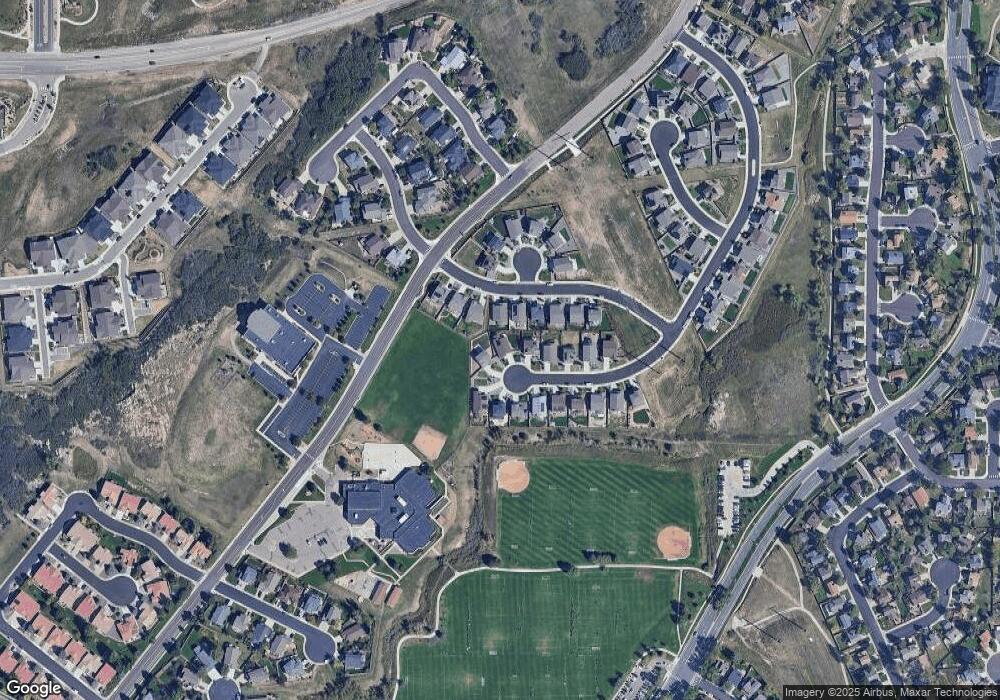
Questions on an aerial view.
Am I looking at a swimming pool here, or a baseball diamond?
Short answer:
baseball diamond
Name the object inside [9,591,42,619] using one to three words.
house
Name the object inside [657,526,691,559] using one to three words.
baseball field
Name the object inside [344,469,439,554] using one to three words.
building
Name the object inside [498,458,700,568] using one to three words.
sports field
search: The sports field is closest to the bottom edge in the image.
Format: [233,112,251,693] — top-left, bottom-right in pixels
[399,568,676,700]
